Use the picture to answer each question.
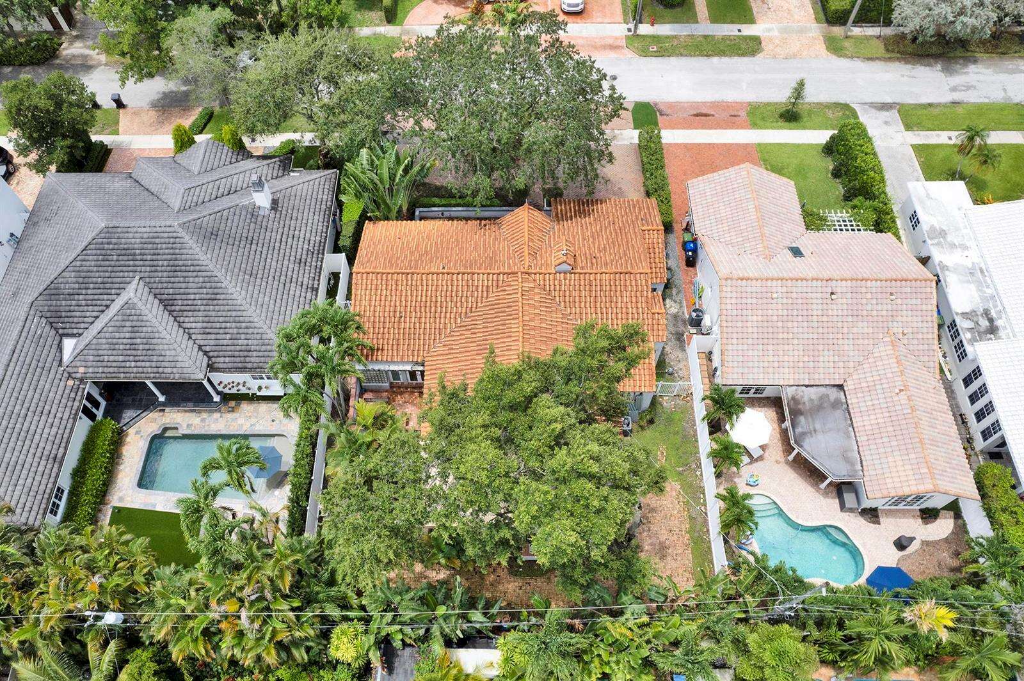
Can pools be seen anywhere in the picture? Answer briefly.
Yes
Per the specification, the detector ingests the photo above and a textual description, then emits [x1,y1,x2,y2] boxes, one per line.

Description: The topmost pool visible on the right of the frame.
[741,488,869,587]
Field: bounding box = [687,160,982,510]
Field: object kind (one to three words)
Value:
house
